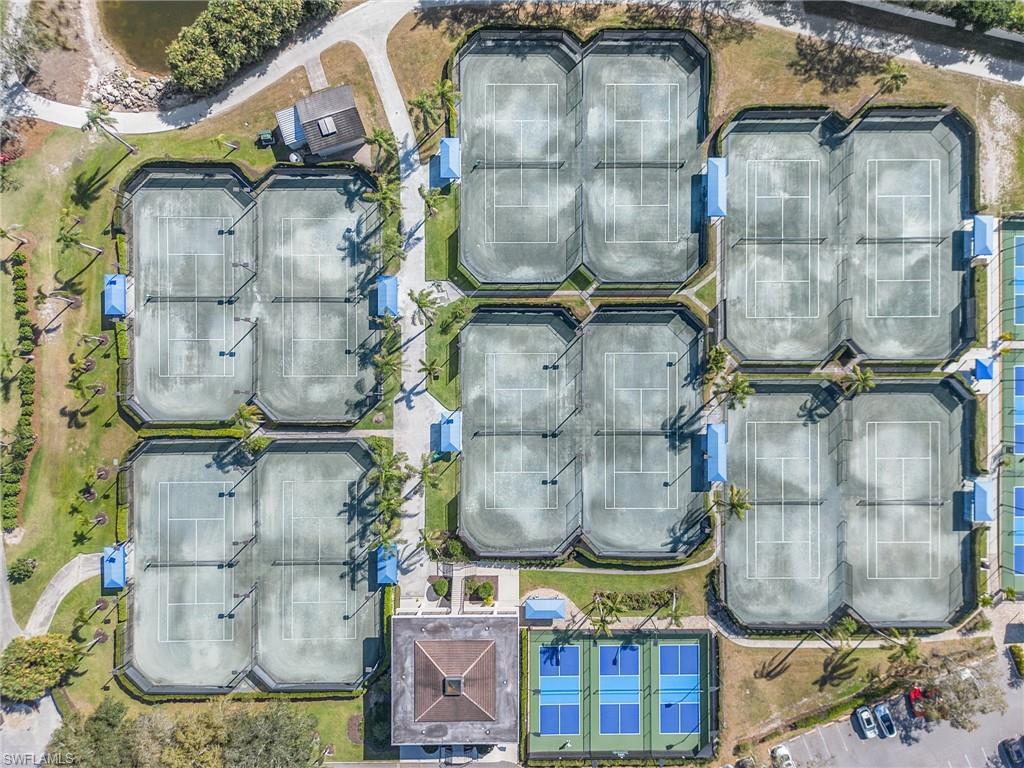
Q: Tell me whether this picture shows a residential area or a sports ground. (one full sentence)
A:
It's a sports ground.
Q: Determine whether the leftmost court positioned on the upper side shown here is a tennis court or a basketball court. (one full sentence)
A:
The leftmost court positioned on the upper side in the image is a tennis court.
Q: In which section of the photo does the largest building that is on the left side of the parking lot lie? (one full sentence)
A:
Look in the bottom portion of the view to spot the largest building that is on the left side of the parking lot.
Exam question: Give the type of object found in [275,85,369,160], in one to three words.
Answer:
shed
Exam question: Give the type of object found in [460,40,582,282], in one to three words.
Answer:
tennis court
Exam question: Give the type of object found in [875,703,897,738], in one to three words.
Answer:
car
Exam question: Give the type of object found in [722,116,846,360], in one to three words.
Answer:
tennis court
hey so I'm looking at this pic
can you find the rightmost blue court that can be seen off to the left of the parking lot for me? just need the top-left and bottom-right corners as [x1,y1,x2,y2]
[651,636,710,753]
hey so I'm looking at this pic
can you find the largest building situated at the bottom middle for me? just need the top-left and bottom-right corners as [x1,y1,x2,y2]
[391,574,520,767]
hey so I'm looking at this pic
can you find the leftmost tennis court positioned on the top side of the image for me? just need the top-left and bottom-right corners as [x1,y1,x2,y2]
[134,174,256,420]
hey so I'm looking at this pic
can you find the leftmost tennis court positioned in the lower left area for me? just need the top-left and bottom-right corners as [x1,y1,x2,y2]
[134,440,257,684]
